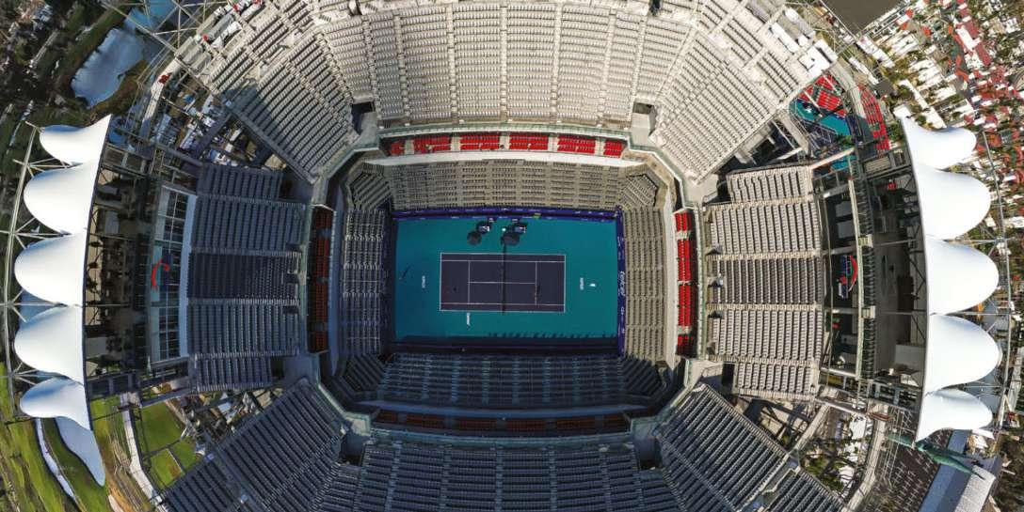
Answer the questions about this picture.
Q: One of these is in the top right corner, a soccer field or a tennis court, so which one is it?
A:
tennis court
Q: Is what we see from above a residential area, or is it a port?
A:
residential area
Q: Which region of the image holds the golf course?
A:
bottom left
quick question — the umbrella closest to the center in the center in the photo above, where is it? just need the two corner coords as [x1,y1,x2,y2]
[503,230,517,244]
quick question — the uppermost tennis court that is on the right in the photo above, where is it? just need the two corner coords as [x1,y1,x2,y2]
[770,75,894,179]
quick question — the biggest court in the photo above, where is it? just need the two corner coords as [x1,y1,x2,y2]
[389,215,618,352]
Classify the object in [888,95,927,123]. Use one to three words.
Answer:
house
